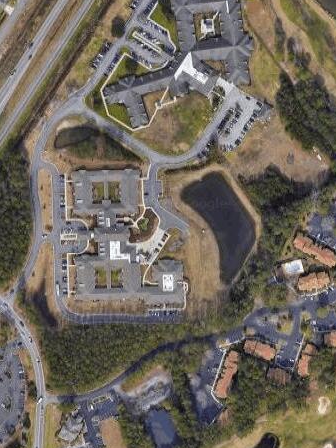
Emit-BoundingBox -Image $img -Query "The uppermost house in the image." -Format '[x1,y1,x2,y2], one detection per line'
[105,0,255,129]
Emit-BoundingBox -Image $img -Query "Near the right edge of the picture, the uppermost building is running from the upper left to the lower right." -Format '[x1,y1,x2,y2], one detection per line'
[291,230,336,269]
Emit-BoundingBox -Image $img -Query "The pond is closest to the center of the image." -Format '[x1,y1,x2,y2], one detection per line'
[183,171,257,284]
